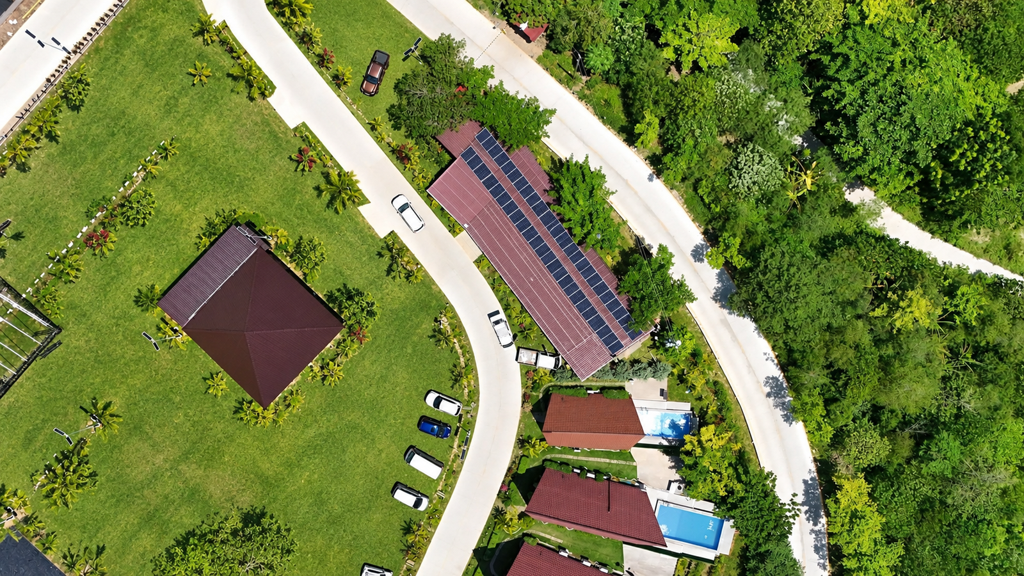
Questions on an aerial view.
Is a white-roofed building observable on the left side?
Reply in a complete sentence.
No, looking on the left side, there is no white-roofed building.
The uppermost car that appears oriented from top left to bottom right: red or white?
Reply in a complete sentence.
The uppermost car that appears oriented from top left to bottom right is white.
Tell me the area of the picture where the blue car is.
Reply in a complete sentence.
The blue car is in the bottom part of the image.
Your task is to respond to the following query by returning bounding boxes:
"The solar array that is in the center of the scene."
[461,147,624,355]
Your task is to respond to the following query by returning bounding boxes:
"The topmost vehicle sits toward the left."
[361,50,391,97]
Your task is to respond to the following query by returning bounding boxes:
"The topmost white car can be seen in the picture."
[391,195,425,236]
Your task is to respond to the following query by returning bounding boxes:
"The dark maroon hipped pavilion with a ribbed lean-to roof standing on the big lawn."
[153,223,344,408]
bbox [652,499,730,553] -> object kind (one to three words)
swimming pool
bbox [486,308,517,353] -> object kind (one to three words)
truck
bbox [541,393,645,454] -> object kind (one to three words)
house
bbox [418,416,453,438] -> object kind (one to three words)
car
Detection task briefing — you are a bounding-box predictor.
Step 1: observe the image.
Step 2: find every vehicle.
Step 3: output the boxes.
[404,448,445,481]
[361,50,391,97]
[391,483,430,509]
[391,195,425,236]
[516,347,560,371]
[418,416,453,438]
[358,563,397,576]
[424,390,463,417]
[486,308,517,353]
